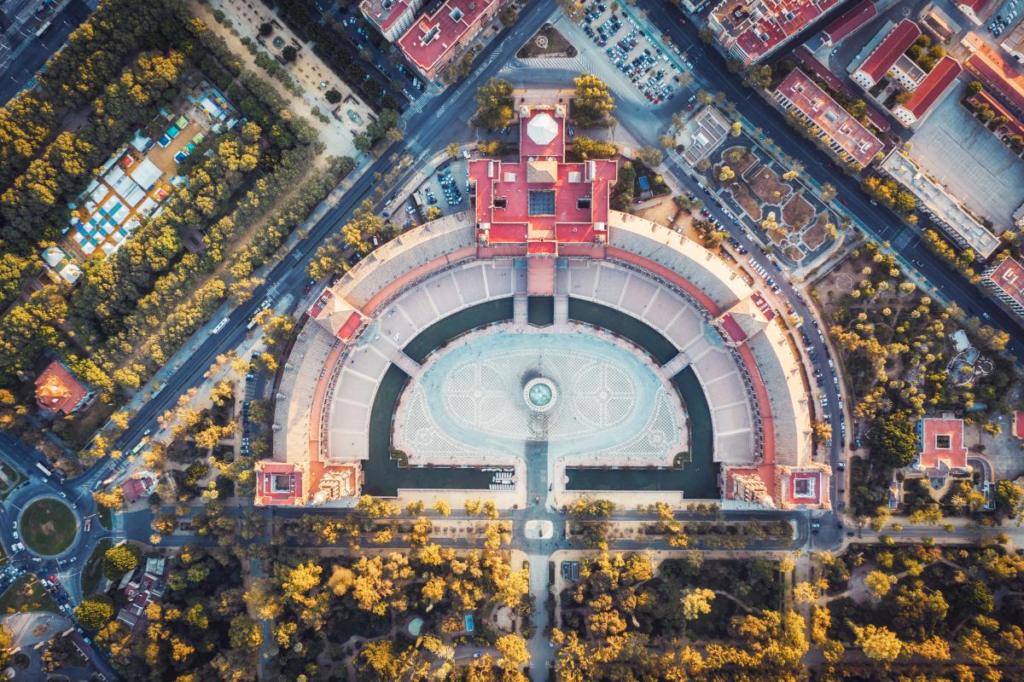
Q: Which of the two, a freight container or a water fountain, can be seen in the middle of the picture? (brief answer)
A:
water fountain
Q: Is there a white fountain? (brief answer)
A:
Yes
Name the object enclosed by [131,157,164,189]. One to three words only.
tent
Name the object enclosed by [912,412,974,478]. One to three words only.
house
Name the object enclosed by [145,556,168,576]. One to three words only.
shed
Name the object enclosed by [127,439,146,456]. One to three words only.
vehicle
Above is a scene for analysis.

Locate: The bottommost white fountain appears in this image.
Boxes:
[522,377,556,411]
